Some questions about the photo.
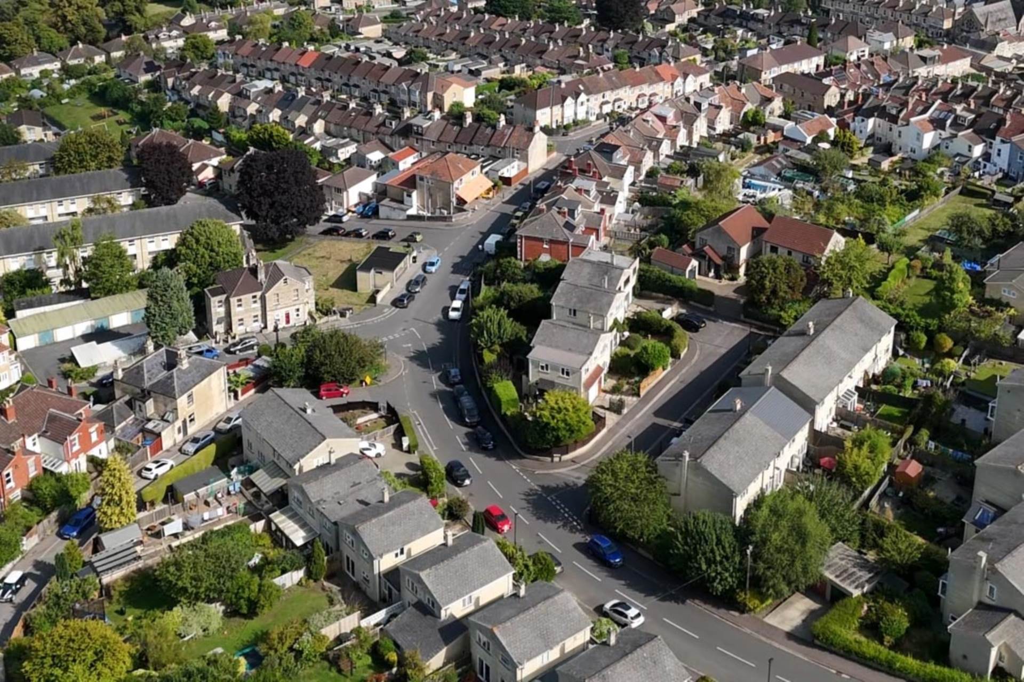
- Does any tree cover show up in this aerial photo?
Yes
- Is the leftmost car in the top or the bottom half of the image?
bottom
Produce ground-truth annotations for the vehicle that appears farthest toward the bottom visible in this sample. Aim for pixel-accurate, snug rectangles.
[602,599,646,626]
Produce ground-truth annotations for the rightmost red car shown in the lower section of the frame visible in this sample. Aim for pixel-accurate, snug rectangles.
[484,502,510,530]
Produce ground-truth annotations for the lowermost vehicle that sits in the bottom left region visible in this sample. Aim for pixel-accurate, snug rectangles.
[0,570,24,599]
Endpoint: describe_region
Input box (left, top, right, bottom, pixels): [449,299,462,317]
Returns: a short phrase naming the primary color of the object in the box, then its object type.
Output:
white vehicle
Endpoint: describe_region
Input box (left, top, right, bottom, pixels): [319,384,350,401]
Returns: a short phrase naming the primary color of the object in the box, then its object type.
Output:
red car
